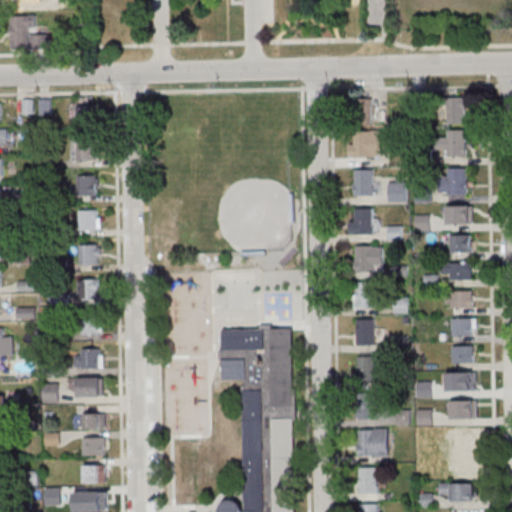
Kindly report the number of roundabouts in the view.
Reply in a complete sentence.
There are no roundabouts in this view.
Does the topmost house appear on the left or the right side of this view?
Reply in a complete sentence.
You can find the topmost house on the left side of the picture.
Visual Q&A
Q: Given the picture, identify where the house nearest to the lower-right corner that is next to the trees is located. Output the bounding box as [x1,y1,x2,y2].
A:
[439,484,473,502]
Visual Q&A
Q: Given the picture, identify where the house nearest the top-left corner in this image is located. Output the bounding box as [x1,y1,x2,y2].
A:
[8,14,46,48]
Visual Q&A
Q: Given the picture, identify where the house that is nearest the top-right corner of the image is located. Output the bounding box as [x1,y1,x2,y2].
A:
[437,97,465,126]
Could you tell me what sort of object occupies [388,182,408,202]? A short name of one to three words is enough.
building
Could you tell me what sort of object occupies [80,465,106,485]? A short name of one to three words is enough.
house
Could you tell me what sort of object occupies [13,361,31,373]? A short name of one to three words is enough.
swimming pool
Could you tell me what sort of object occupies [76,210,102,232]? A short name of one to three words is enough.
house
